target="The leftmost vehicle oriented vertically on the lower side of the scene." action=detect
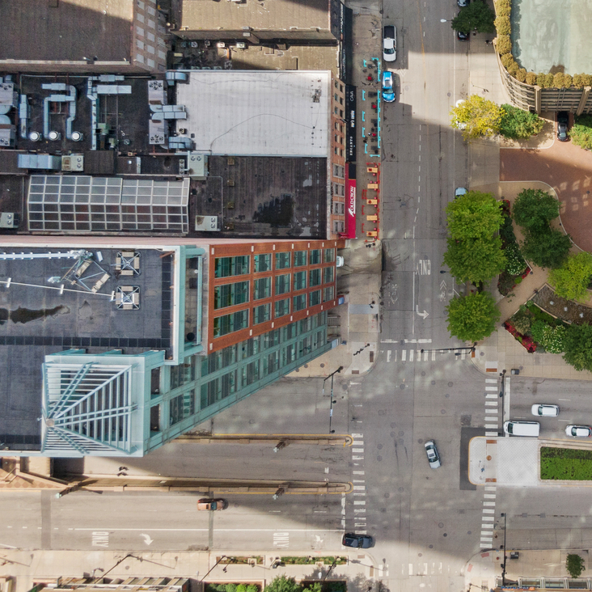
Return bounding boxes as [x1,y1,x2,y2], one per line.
[425,438,439,467]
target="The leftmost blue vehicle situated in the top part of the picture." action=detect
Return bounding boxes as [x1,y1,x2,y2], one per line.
[383,73,395,102]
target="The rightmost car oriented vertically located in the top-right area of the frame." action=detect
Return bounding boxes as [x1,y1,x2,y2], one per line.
[556,114,569,142]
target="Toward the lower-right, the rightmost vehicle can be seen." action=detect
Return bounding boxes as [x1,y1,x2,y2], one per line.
[567,424,592,437]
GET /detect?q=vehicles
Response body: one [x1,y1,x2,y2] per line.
[344,532,375,549]
[199,496,228,510]
[567,424,592,437]
[503,420,540,435]
[458,24,469,42]
[531,403,559,417]
[556,114,569,142]
[383,73,395,102]
[425,438,439,467]
[384,25,397,63]
[334,255,355,266]
[458,0,467,9]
